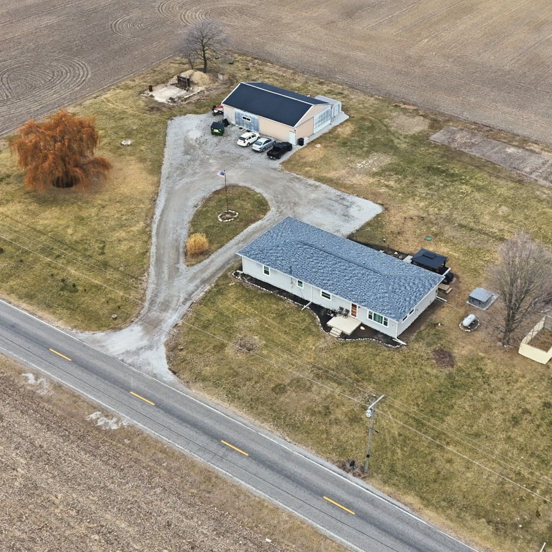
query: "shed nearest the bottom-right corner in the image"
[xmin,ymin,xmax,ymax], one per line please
[466,288,497,311]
